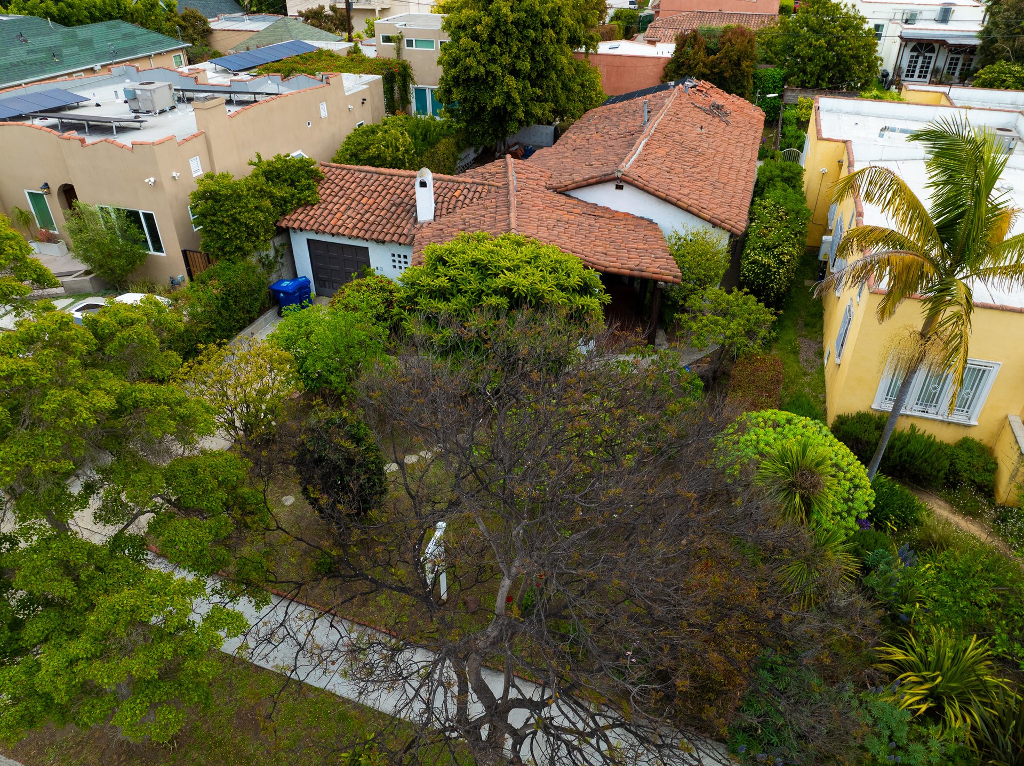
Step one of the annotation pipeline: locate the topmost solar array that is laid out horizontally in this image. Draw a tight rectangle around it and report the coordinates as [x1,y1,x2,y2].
[209,40,315,75]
